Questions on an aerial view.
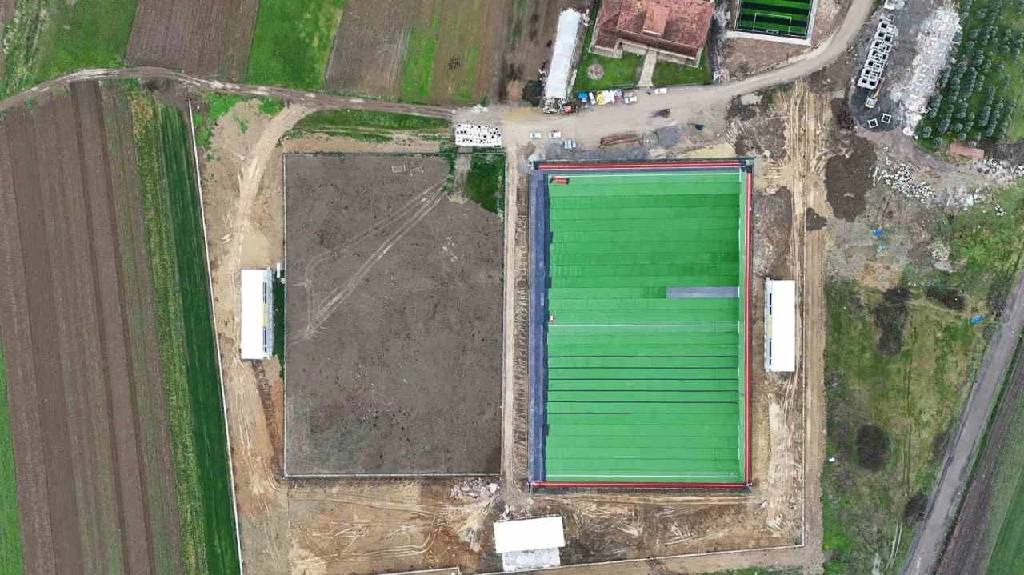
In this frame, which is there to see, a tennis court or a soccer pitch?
soccer pitch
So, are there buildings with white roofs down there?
Yes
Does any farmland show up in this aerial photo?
Yes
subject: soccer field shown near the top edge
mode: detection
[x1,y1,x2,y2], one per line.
[723,0,820,47]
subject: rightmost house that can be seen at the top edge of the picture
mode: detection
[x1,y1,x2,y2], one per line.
[592,0,716,68]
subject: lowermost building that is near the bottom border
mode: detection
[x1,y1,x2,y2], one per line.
[493,511,565,567]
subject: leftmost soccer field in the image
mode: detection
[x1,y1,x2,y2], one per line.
[284,152,504,478]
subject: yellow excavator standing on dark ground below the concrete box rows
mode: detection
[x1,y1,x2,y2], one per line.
[865,82,884,109]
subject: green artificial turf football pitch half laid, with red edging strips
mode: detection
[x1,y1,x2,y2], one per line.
[530,161,752,488]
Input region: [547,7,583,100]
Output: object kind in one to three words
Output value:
greenhouse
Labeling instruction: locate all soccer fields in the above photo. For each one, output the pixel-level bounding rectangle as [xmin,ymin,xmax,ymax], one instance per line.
[284,152,504,478]
[723,0,820,47]
[530,161,752,488]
